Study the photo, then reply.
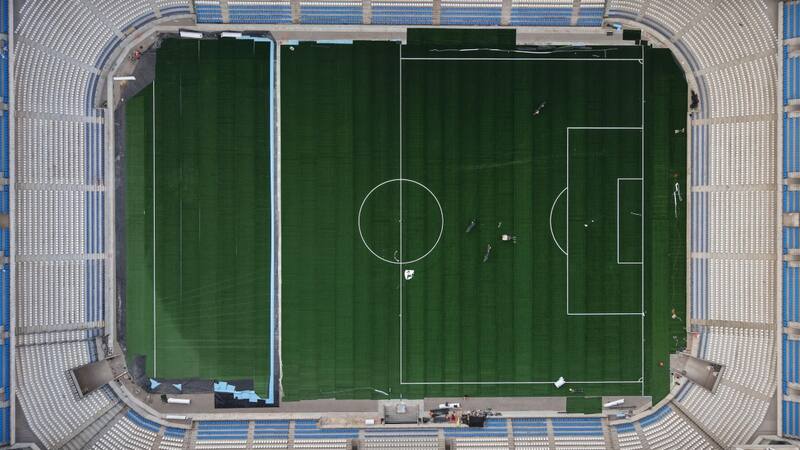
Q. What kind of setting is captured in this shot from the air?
sports ground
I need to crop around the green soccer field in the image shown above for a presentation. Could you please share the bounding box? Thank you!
[126,39,685,402]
